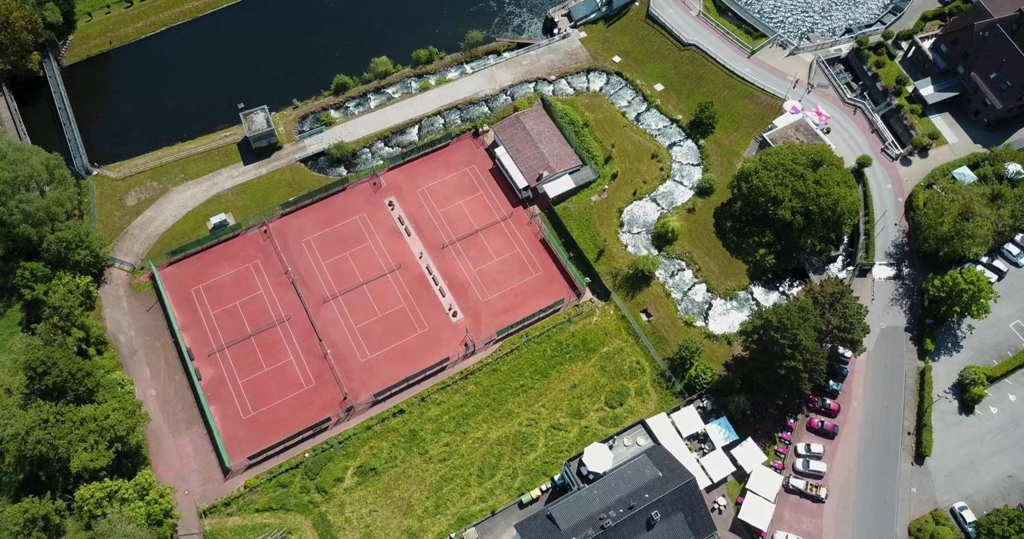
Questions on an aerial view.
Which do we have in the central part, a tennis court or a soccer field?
tennis court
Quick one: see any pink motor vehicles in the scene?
Yes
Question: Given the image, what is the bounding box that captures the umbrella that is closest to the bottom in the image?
[737,495,774,533]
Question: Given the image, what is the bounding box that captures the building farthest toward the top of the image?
[551,0,635,35]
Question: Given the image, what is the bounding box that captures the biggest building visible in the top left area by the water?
[240,105,280,151]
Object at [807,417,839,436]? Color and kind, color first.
pink car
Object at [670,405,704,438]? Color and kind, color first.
white umbrella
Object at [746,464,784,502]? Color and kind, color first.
white umbrella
